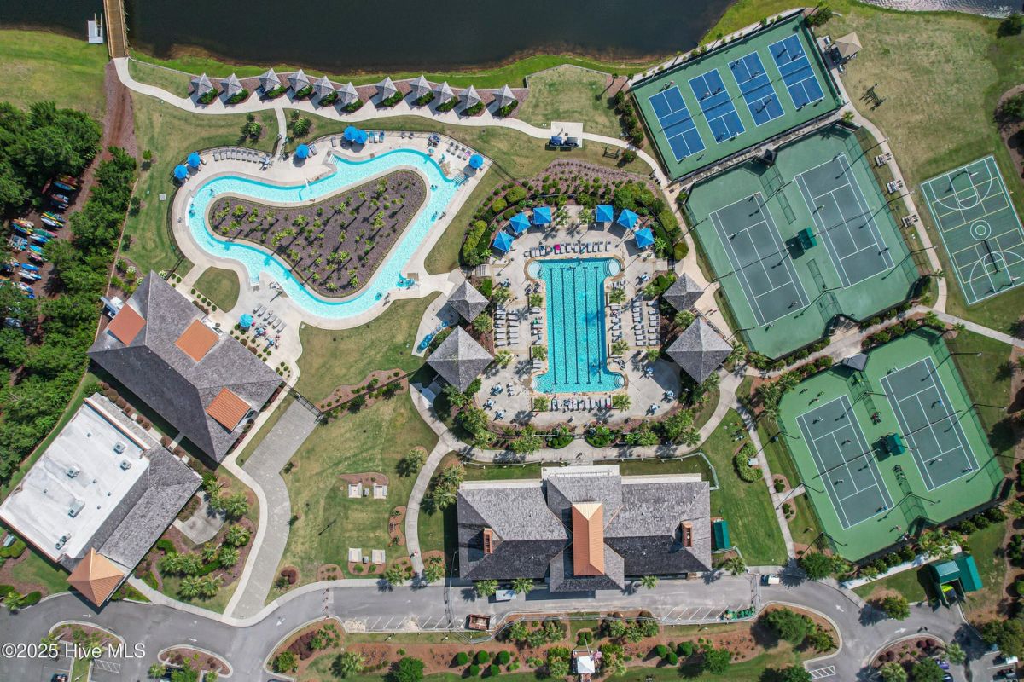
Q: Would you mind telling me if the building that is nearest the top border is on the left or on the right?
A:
right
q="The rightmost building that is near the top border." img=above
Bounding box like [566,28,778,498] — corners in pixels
[829,31,863,63]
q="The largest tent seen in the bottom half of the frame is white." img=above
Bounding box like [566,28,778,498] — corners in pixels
[577,655,595,674]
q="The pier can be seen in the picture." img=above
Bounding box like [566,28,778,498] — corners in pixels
[88,10,104,45]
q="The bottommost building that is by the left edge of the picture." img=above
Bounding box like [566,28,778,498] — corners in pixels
[0,393,206,570]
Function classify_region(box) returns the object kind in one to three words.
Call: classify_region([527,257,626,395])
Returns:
swimming pool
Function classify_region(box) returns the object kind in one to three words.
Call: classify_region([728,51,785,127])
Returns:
sports court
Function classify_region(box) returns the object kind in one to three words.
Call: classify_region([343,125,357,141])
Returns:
umbrella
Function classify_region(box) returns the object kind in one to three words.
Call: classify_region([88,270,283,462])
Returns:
building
